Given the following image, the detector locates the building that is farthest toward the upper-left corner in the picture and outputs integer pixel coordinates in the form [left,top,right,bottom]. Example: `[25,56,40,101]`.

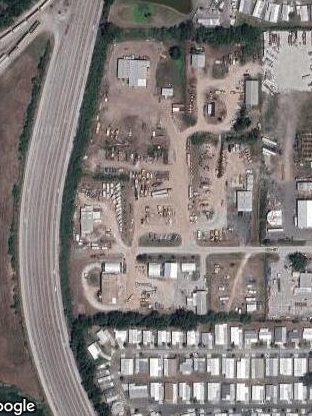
[117,59,150,86]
